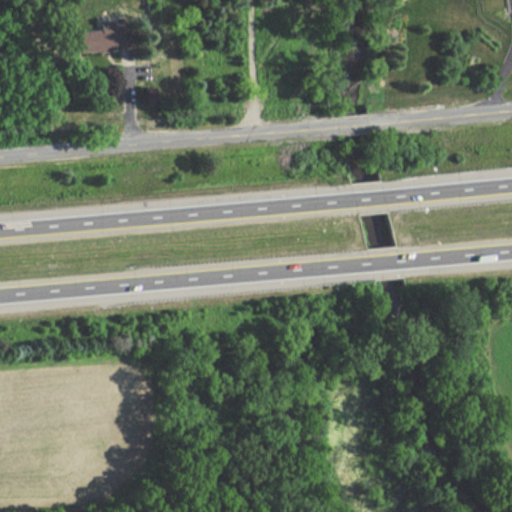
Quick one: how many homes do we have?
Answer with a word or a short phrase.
1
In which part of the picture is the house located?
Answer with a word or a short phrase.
top left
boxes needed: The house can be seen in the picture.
[84,18,126,54]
